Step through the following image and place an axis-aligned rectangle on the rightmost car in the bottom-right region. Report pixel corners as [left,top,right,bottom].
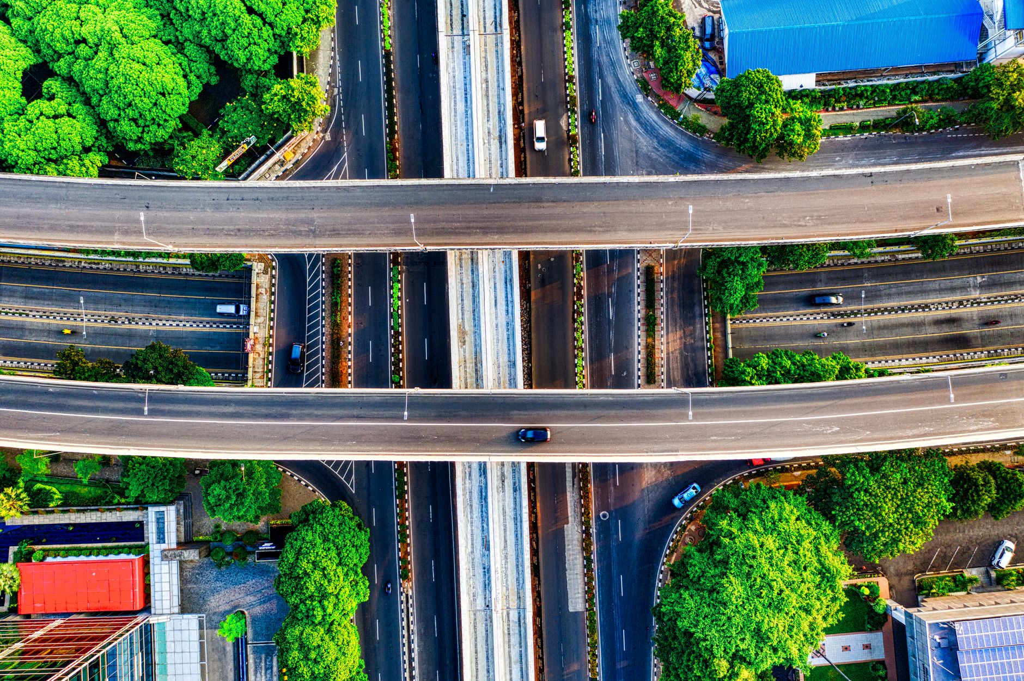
[994,541,1017,573]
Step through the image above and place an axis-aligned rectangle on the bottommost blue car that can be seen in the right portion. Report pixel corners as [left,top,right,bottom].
[672,483,704,509]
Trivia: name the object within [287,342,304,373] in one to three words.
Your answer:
car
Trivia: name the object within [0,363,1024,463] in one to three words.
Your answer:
overpass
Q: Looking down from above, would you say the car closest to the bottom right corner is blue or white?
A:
white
